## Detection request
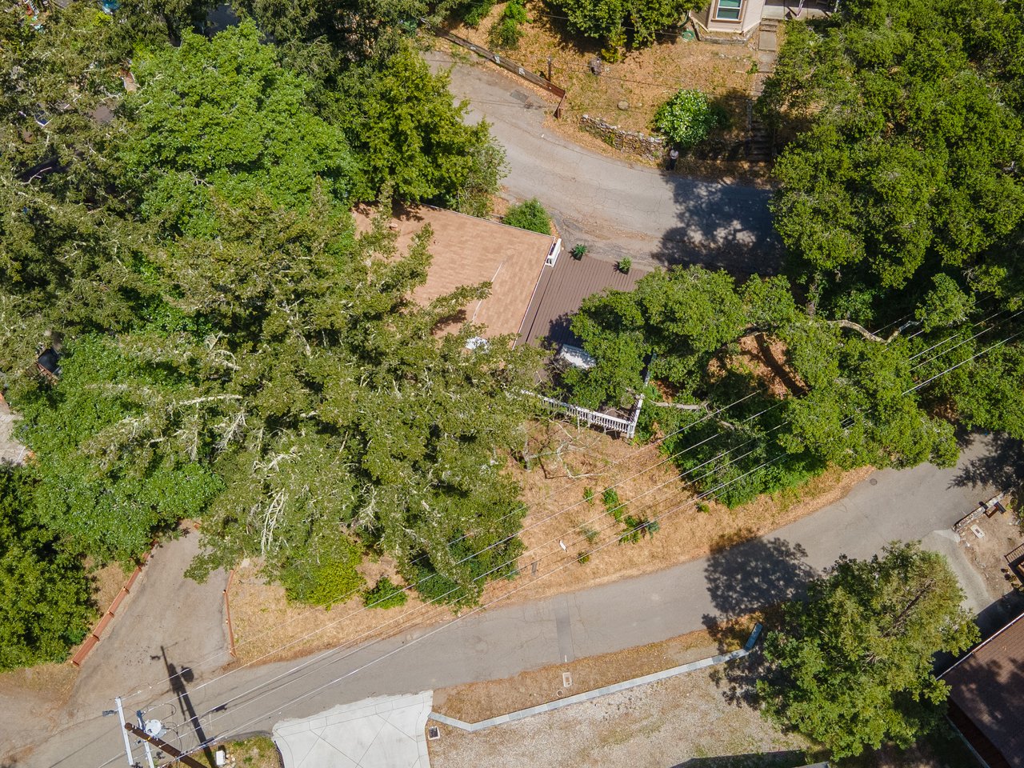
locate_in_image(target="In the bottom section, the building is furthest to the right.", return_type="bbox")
[917,610,1024,768]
